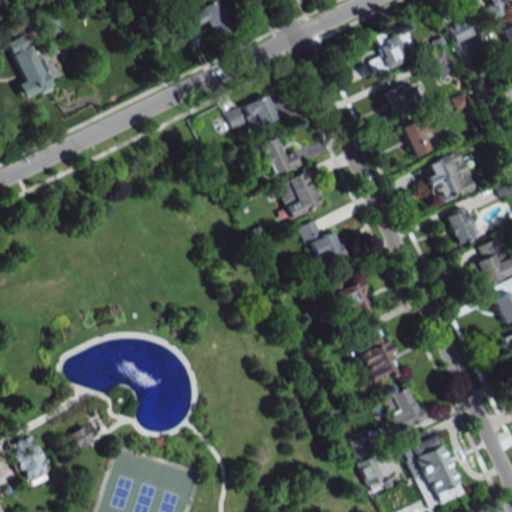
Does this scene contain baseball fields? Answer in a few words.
No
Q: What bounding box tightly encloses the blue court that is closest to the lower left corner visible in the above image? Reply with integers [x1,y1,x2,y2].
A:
[110,476,133,510]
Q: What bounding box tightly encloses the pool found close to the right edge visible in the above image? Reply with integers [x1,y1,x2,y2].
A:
[474,202,512,236]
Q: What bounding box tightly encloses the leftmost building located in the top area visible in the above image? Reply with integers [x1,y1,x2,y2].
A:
[12,37,56,100]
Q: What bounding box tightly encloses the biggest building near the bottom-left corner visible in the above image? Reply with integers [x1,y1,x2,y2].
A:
[12,432,50,490]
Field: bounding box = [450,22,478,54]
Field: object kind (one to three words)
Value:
house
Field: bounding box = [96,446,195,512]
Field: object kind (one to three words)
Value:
sports court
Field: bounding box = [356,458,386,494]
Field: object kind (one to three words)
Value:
house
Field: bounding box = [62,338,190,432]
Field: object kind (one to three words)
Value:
pond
